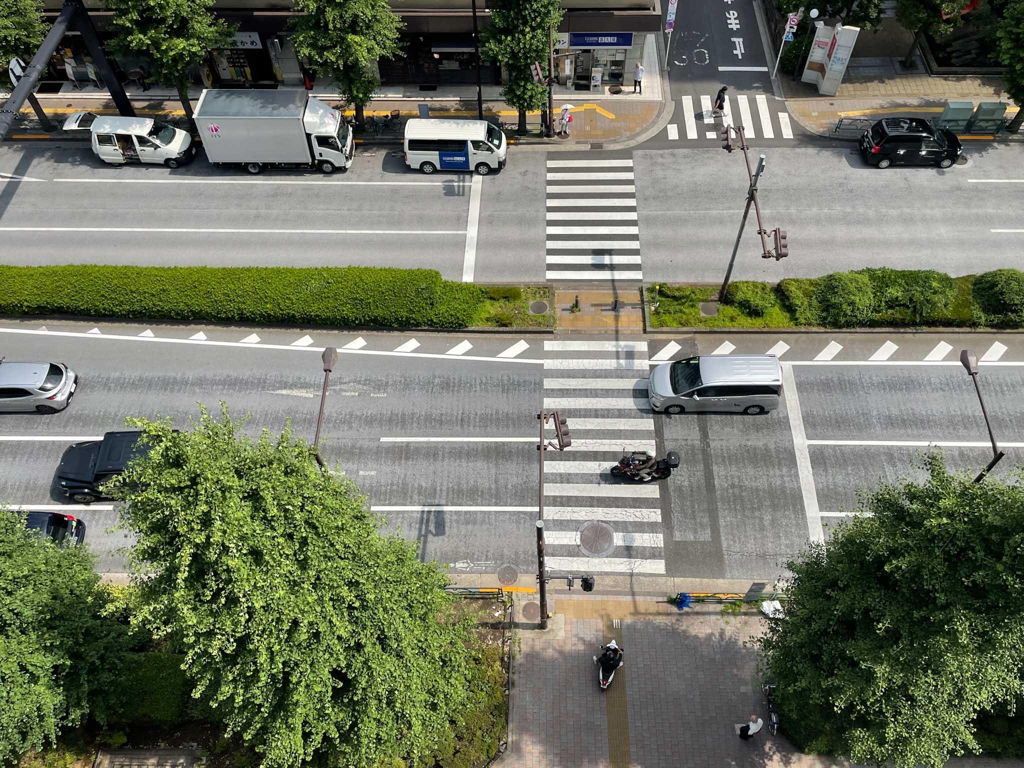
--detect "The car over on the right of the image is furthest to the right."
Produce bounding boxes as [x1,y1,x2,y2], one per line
[863,116,969,168]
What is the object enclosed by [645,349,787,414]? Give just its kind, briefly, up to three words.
car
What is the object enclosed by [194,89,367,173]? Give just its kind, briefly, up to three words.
truck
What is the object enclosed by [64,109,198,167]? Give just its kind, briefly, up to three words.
van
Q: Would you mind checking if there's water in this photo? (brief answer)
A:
No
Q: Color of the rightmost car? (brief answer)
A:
black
